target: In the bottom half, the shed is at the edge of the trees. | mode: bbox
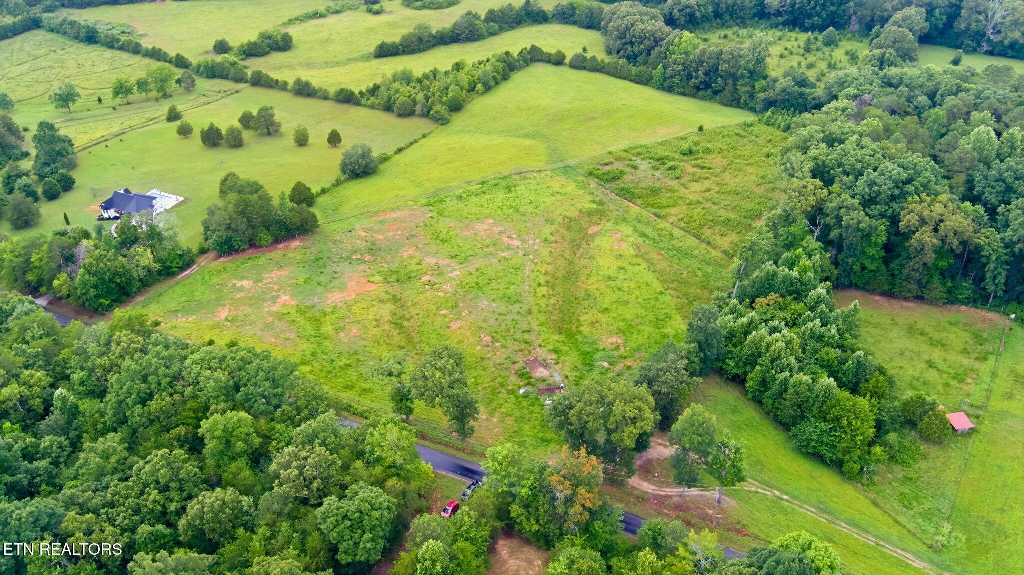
[944,412,976,436]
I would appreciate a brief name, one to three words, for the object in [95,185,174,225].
house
